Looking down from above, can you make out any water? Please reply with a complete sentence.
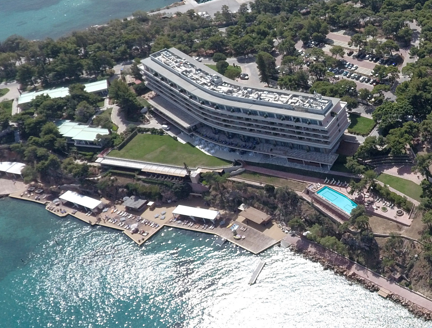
Yes, there's water in this view.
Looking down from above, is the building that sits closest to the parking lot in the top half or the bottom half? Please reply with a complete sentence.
The building that sits closest to the parking lot is in the top half of the image.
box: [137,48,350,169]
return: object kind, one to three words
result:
building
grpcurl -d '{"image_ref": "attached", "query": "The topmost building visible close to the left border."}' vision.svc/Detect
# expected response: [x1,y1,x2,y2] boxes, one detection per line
[16,78,109,109]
